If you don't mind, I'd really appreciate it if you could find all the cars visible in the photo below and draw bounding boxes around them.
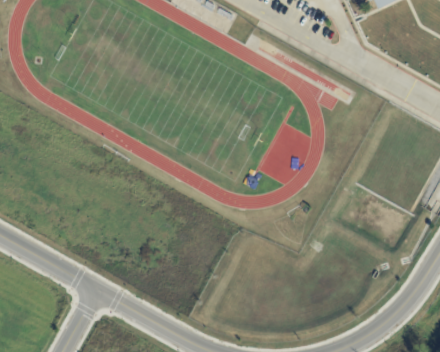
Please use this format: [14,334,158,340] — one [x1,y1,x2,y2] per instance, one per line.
[305,5,312,15]
[281,5,288,14]
[314,10,320,20]
[318,12,324,21]
[300,16,306,25]
[309,8,316,17]
[272,0,279,9]
[326,30,334,39]
[296,0,304,8]
[276,2,284,12]
[301,2,308,11]
[322,26,329,36]
[312,23,320,32]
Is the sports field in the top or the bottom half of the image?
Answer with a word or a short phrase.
top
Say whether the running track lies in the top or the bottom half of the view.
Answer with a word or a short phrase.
top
